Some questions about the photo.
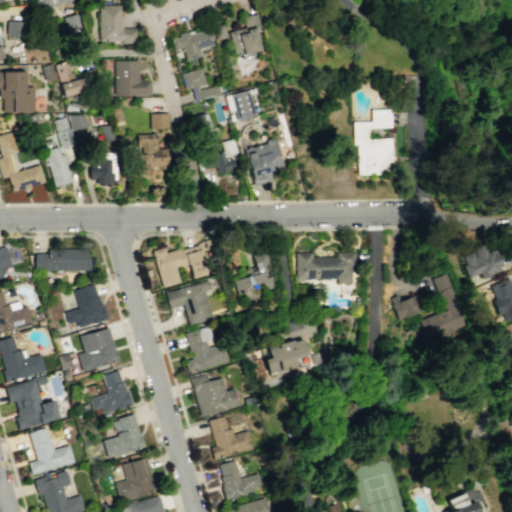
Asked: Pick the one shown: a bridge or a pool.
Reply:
pool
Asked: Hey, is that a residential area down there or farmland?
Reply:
residential area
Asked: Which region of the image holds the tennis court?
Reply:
bottom right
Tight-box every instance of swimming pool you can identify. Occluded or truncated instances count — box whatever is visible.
[328,290,351,308]
[214,102,227,123]
[52,375,65,397]
[14,284,40,309]
[415,495,432,512]
[355,90,372,116]
[28,330,52,350]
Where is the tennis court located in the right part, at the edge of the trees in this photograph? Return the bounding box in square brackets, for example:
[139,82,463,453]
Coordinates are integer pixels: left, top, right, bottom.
[358,461,404,512]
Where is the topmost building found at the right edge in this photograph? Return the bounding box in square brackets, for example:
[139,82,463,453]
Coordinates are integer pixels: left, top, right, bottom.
[466,248,508,282]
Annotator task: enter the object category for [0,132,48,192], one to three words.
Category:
house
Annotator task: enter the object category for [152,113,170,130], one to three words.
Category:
building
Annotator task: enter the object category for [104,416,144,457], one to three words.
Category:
house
